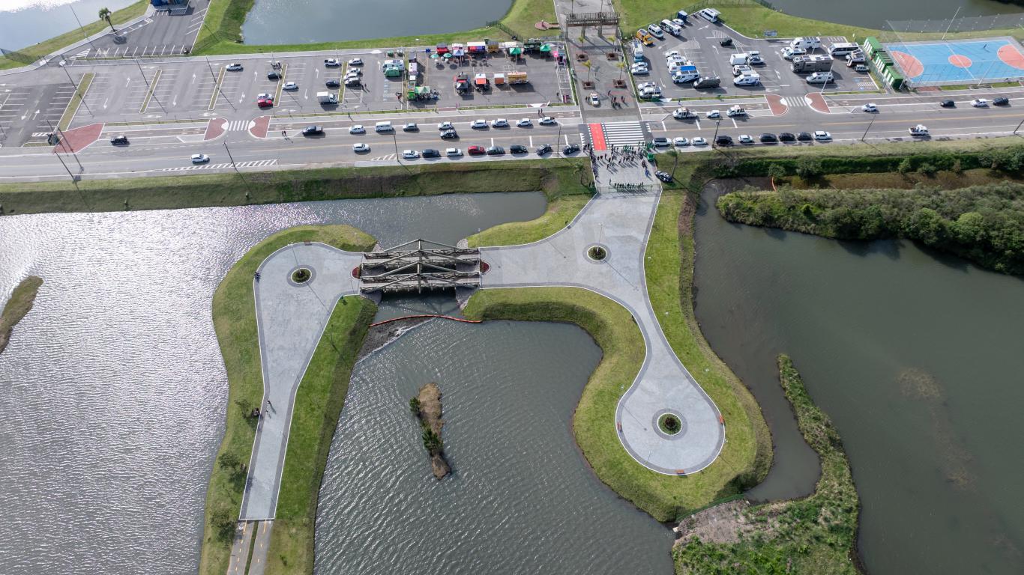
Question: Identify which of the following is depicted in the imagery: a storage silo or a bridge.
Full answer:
The image shows a bridge.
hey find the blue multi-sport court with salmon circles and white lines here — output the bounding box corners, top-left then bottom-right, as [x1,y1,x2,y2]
[882,36,1024,87]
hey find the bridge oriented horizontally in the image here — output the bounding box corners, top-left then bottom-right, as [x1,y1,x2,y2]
[362,238,480,294]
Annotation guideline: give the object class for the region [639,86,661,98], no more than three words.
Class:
vehicle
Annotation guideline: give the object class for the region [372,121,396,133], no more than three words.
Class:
vehicle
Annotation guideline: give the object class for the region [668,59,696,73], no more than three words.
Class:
camper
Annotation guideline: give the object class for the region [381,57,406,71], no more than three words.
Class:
camper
